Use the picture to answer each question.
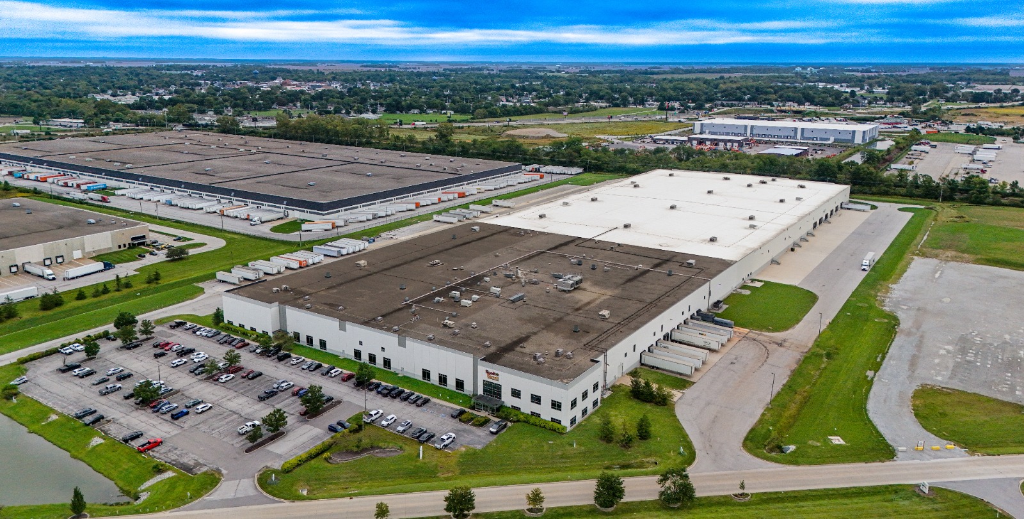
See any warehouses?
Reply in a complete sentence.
Yes, there's a warehouse down there.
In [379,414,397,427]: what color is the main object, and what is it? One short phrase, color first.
white vehicle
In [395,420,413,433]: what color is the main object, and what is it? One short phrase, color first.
gray vehicle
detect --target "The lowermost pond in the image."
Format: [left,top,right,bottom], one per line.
[0,414,127,507]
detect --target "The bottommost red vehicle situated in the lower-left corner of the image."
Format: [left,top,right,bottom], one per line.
[135,438,164,452]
